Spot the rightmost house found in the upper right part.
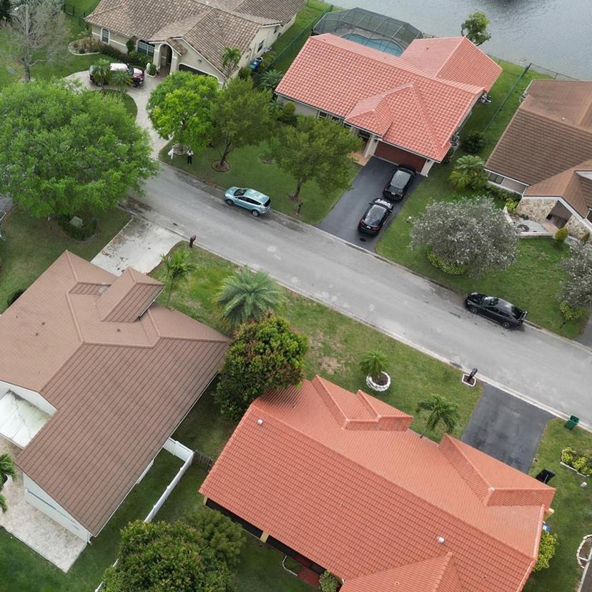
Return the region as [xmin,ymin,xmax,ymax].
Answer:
[479,79,592,244]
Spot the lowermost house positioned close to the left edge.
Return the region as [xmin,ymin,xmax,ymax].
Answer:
[0,249,230,551]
